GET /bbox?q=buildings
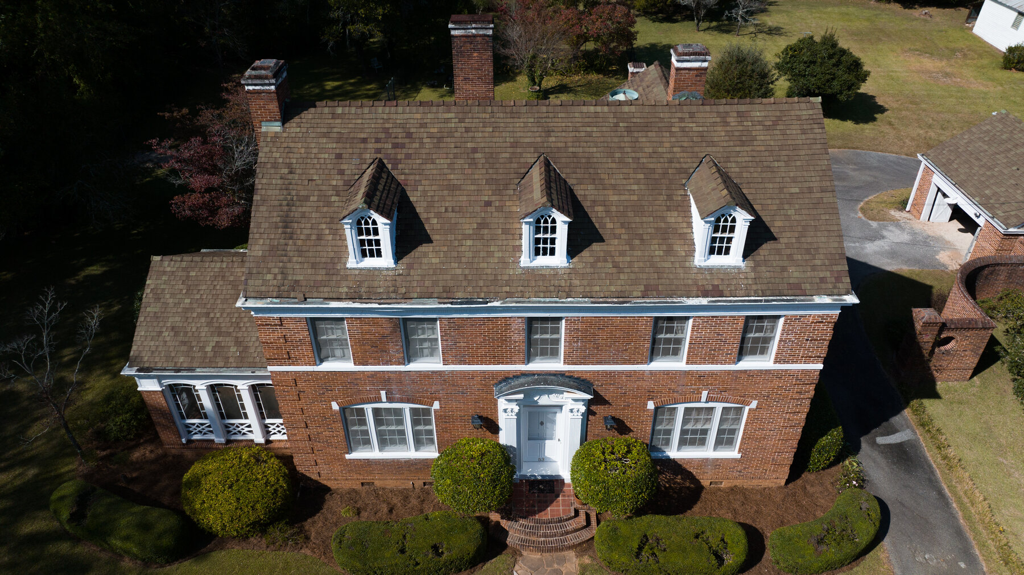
[905,109,1024,264]
[117,8,859,489]
[948,0,1024,53]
